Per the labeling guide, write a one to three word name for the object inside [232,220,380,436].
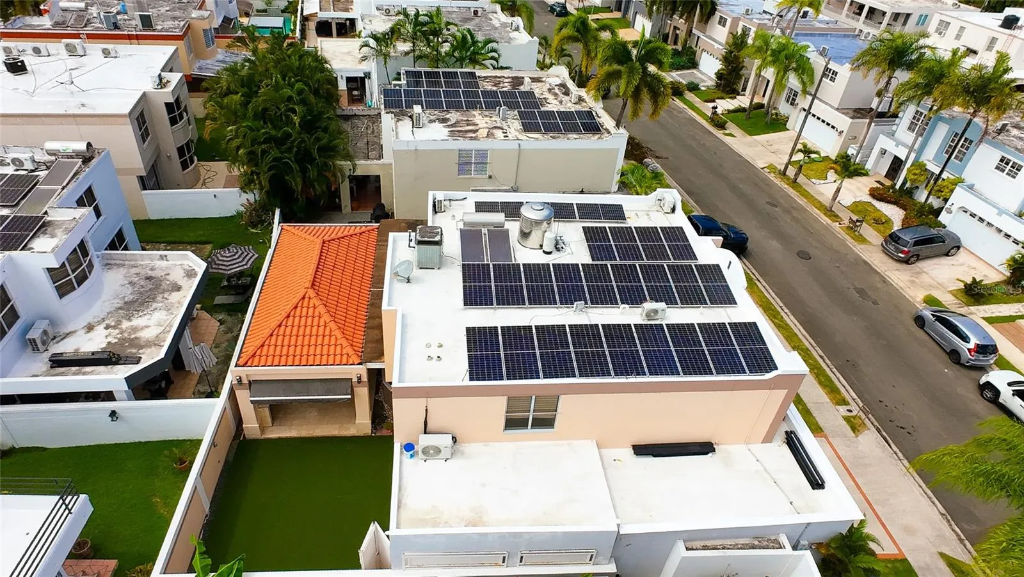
gazebo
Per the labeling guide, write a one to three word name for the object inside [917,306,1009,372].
car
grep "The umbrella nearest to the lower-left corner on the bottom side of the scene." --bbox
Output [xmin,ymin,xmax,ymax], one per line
[178,353,212,395]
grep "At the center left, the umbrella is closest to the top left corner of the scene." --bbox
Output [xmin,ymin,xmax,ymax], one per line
[202,242,263,282]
